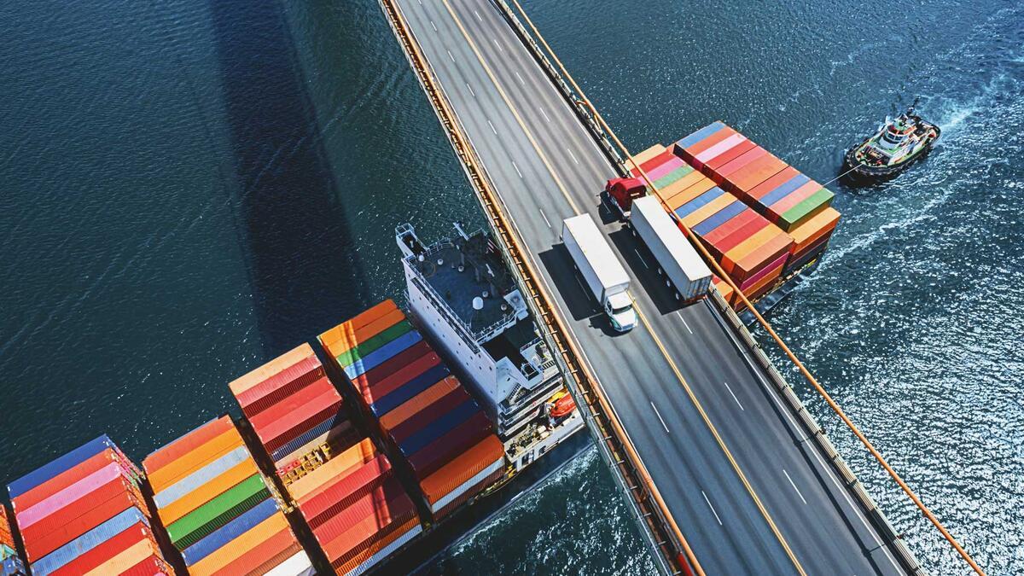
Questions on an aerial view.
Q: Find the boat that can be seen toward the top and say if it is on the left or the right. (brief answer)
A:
right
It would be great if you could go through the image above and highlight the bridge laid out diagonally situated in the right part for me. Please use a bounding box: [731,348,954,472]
[374,0,983,576]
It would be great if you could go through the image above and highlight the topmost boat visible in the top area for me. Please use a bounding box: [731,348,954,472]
[843,98,944,178]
